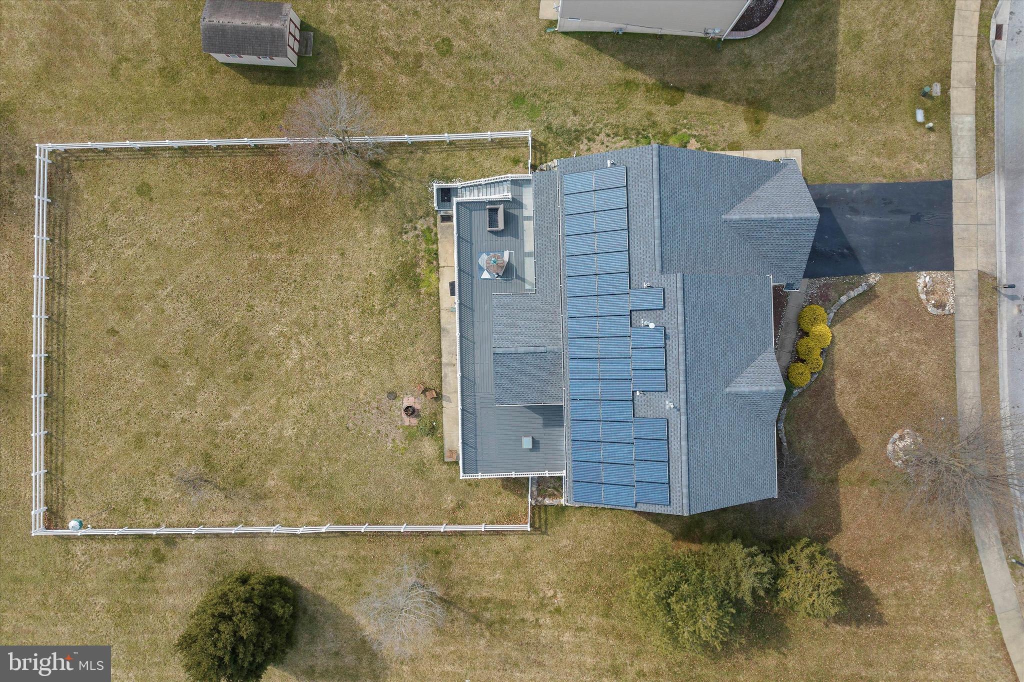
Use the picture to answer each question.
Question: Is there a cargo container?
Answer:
No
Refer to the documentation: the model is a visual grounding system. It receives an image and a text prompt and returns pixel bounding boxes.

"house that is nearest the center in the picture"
[492,144,821,518]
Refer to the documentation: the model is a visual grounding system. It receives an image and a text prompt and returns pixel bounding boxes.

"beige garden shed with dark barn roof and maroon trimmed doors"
[198,0,299,67]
